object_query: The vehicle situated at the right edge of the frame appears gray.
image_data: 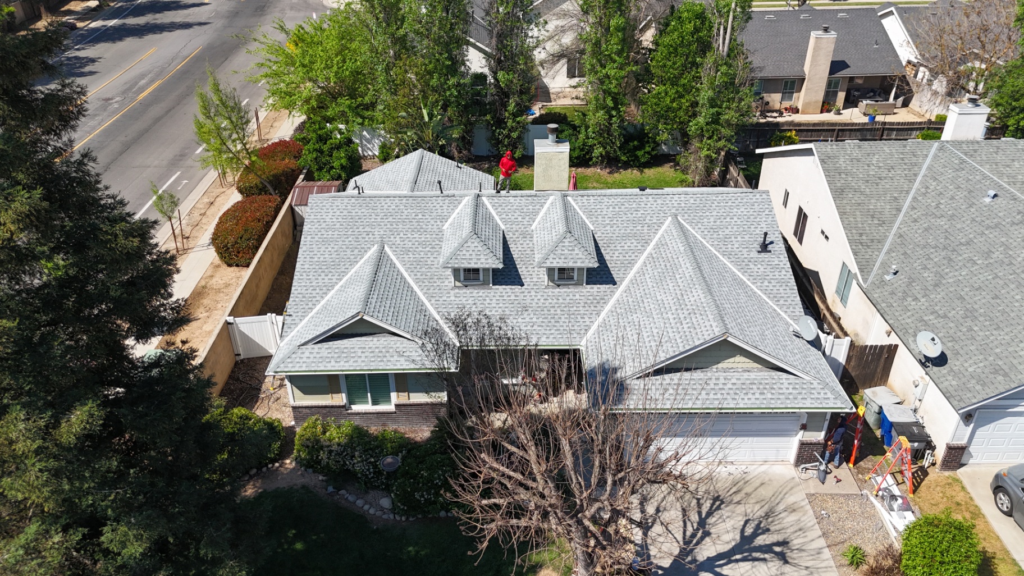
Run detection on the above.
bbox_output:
[992,473,1024,537]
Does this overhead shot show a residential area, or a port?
residential area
